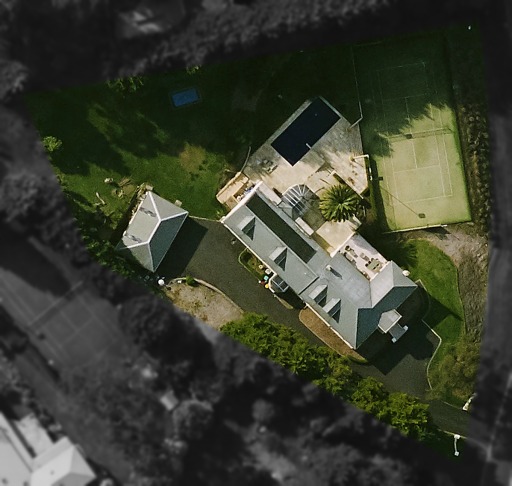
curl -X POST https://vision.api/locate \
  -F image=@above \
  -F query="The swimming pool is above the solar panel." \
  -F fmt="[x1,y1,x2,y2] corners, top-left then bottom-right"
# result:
[271,96,340,166]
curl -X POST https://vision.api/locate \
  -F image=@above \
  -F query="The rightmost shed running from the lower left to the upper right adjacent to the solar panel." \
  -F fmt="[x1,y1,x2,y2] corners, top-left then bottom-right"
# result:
[216,172,248,203]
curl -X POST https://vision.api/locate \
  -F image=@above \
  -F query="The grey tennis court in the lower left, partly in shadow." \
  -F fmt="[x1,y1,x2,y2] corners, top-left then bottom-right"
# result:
[0,226,128,385]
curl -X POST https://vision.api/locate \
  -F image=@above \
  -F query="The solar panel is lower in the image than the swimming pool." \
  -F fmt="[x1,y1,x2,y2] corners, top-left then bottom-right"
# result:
[246,194,317,264]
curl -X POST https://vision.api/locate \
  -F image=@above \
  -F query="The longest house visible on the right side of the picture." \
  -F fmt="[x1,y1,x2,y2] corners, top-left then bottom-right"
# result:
[222,182,418,350]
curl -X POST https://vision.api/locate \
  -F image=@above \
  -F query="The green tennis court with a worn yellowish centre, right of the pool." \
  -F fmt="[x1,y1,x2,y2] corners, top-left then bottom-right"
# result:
[352,30,472,233]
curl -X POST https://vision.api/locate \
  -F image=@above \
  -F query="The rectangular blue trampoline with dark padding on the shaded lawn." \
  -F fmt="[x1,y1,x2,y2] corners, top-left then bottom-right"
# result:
[170,86,200,110]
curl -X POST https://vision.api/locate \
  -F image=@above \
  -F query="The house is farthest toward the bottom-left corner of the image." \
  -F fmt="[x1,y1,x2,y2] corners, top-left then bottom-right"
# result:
[0,410,96,486]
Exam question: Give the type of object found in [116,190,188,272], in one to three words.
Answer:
building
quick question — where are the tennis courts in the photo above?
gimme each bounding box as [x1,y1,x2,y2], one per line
[352,30,472,233]
[0,226,128,385]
